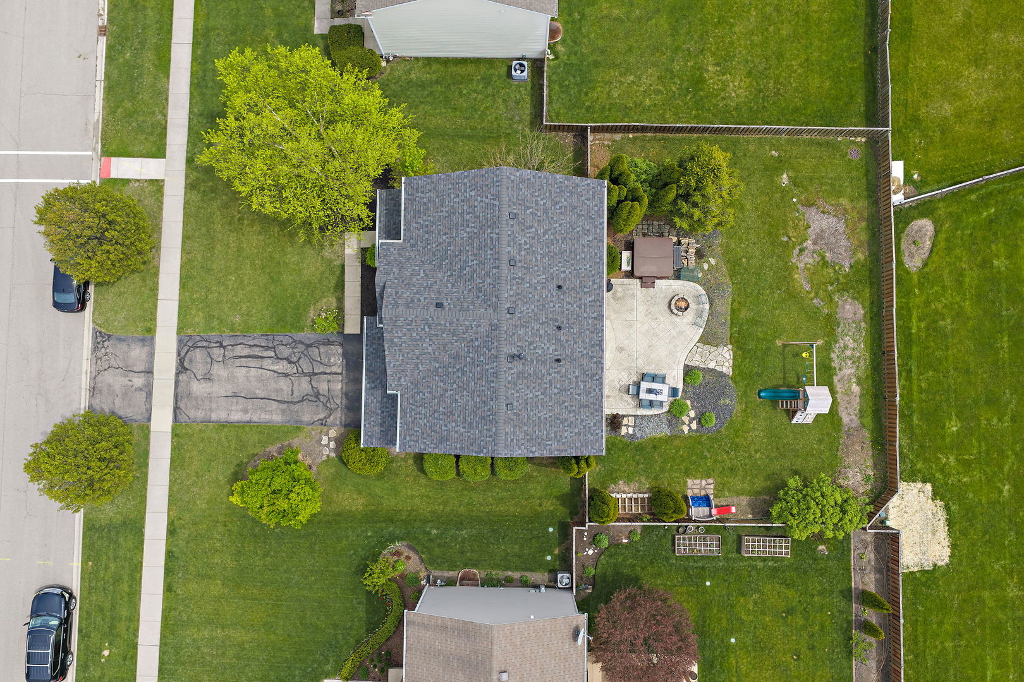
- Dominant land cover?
grass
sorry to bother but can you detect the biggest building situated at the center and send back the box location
[360,167,608,457]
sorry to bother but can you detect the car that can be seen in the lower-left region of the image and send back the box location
[22,585,76,682]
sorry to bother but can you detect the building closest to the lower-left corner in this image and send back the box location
[401,579,590,682]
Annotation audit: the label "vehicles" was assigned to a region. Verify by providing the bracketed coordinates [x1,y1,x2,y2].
[22,585,76,682]
[49,237,88,313]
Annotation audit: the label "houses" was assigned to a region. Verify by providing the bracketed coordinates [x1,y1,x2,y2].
[354,0,559,60]
[401,579,590,682]
[360,167,608,457]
